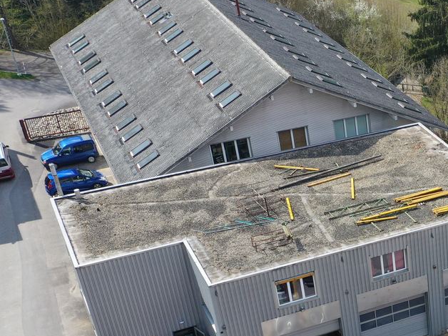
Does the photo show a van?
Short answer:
Yes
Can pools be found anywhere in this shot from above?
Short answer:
No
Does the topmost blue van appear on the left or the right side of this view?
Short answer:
left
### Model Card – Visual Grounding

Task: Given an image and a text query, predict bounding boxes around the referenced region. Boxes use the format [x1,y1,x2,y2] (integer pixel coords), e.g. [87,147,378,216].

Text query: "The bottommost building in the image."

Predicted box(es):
[41,123,448,336]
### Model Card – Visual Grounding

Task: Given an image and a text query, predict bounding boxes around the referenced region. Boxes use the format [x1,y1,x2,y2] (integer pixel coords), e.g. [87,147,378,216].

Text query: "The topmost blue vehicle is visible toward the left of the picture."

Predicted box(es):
[40,134,100,167]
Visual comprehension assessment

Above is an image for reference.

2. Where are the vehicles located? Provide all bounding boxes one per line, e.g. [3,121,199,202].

[40,134,100,167]
[39,163,103,194]
[0,140,23,177]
